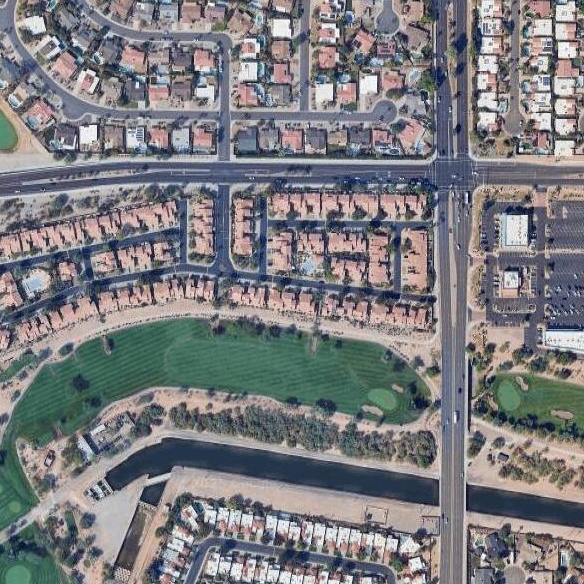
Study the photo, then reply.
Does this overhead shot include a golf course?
Yes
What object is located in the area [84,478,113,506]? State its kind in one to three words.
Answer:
building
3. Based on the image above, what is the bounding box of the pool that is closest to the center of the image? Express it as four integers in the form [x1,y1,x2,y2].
[299,259,314,274]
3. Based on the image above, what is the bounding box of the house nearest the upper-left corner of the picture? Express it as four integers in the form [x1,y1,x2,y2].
[22,15,48,35]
